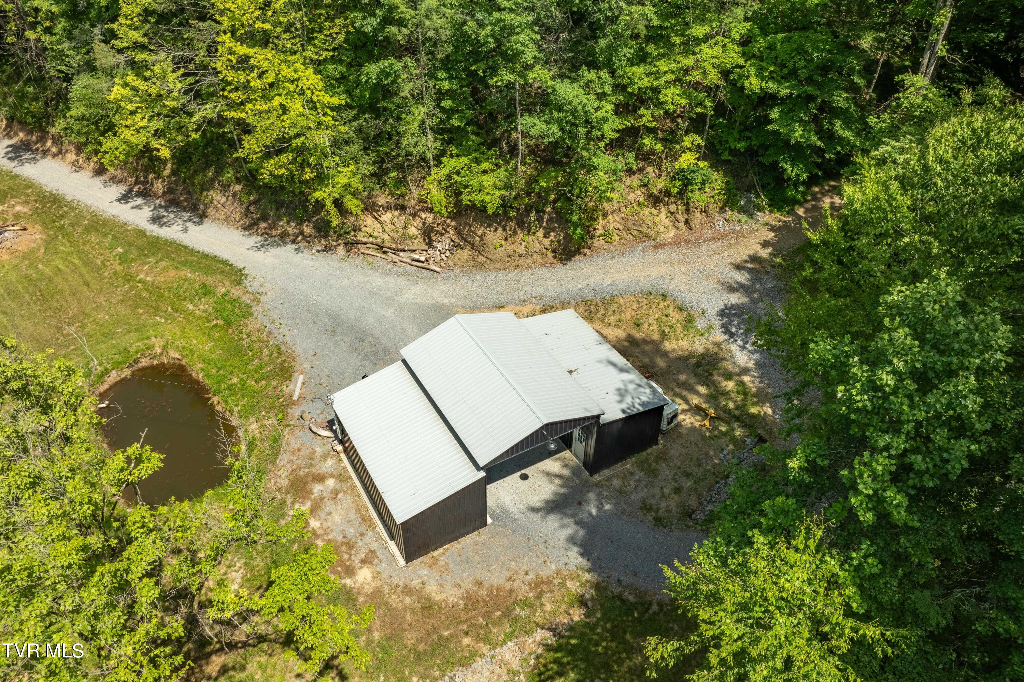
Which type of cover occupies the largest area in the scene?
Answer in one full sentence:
The bulk of the photo consists of trees.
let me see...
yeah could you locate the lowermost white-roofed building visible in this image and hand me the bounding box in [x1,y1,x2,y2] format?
[328,309,669,570]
